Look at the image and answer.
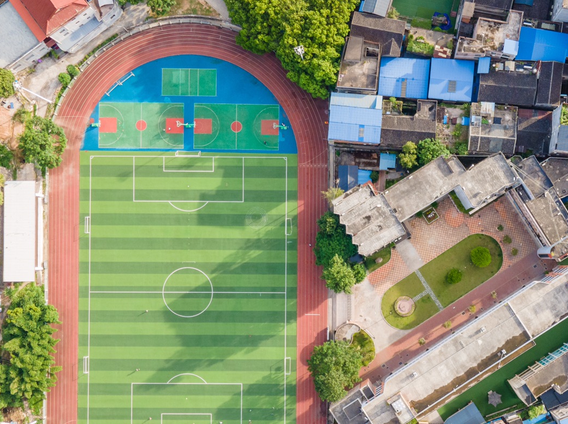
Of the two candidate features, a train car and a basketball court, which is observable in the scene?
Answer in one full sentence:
It is a basketball court that can be seen here.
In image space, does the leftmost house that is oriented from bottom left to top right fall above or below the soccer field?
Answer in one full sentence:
The leftmost house that is oriented from bottom left to top right is found above the soccer field in the photo.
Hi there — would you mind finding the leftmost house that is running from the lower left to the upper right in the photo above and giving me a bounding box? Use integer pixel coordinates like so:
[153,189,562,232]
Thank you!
[54,9,124,55]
